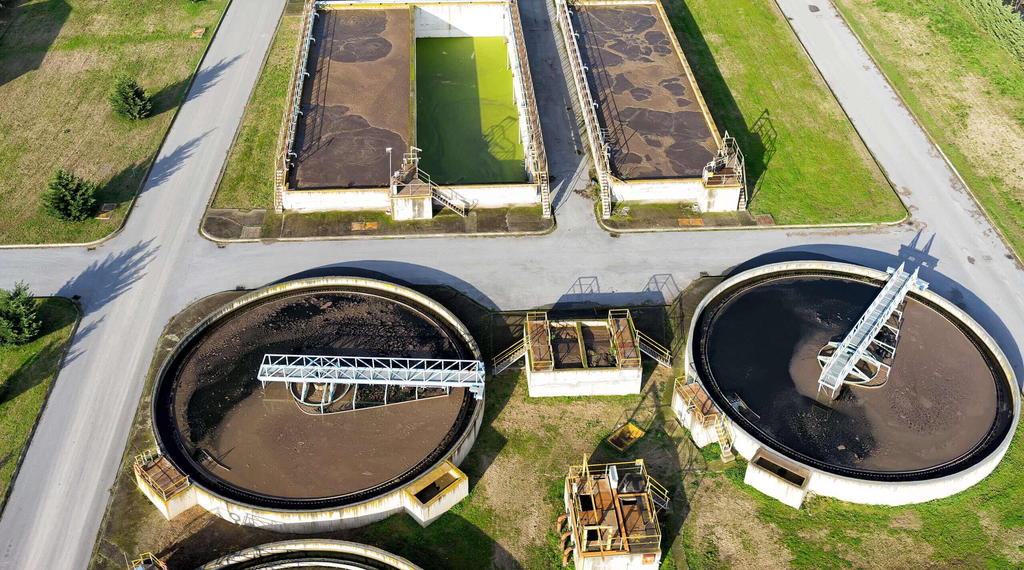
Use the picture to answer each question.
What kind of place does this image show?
industrial area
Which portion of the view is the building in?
bottom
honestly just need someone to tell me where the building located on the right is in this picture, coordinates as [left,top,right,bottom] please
[555,451,677,570]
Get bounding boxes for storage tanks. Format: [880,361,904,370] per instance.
[685,260,1021,503]
[194,539,426,570]
[148,276,486,531]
